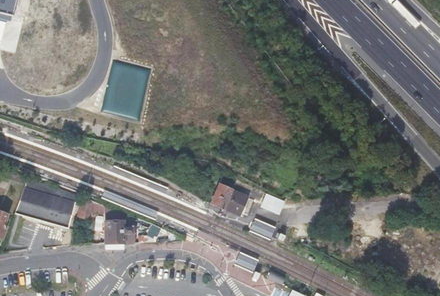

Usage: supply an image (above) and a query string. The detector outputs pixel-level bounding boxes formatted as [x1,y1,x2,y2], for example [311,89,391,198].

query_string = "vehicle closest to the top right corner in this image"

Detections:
[388,0,420,28]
